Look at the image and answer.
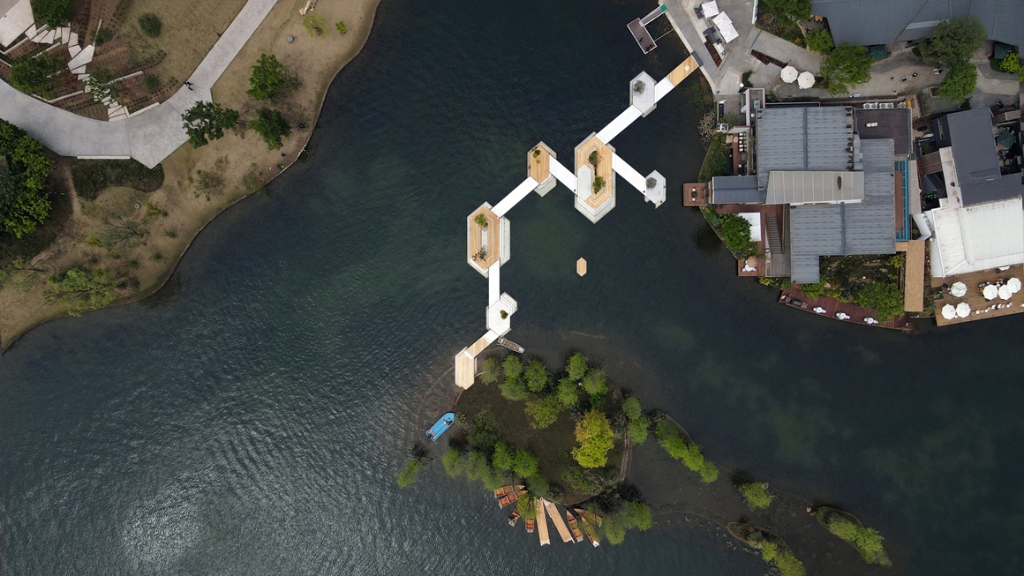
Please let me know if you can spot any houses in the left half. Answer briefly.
No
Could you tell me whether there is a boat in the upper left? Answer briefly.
No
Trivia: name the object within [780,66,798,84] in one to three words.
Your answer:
umbrella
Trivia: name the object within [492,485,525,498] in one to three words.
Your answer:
boat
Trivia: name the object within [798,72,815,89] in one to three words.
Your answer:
umbrella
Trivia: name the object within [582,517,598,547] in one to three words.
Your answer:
boat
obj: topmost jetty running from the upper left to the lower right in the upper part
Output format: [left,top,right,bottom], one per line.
[626,17,658,55]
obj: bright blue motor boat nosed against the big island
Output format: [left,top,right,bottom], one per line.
[427,413,456,441]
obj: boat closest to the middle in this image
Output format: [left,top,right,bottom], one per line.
[498,337,524,351]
